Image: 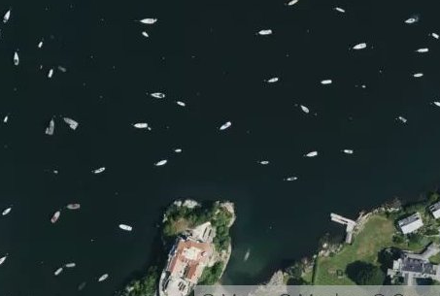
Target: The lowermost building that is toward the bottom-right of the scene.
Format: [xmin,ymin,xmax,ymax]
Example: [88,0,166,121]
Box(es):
[389,258,438,291]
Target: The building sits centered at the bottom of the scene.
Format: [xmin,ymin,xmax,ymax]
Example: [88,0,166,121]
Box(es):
[164,237,216,296]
